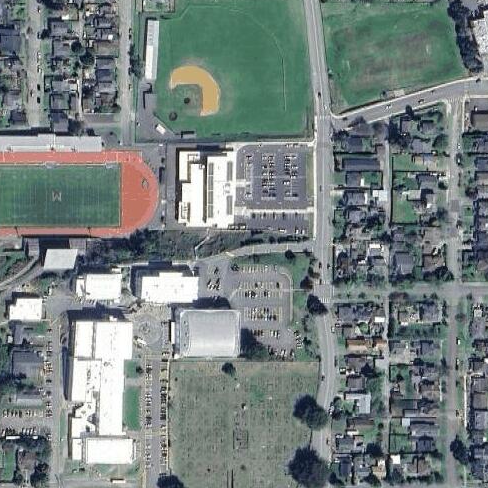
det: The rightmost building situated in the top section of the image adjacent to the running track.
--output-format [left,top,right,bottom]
[178,151,235,228]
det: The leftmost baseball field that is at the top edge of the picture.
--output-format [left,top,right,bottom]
[154,0,315,140]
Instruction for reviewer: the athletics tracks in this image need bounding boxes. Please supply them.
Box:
[0,150,159,237]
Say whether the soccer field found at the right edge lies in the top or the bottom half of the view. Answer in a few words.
top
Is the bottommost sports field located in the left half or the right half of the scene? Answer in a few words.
left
